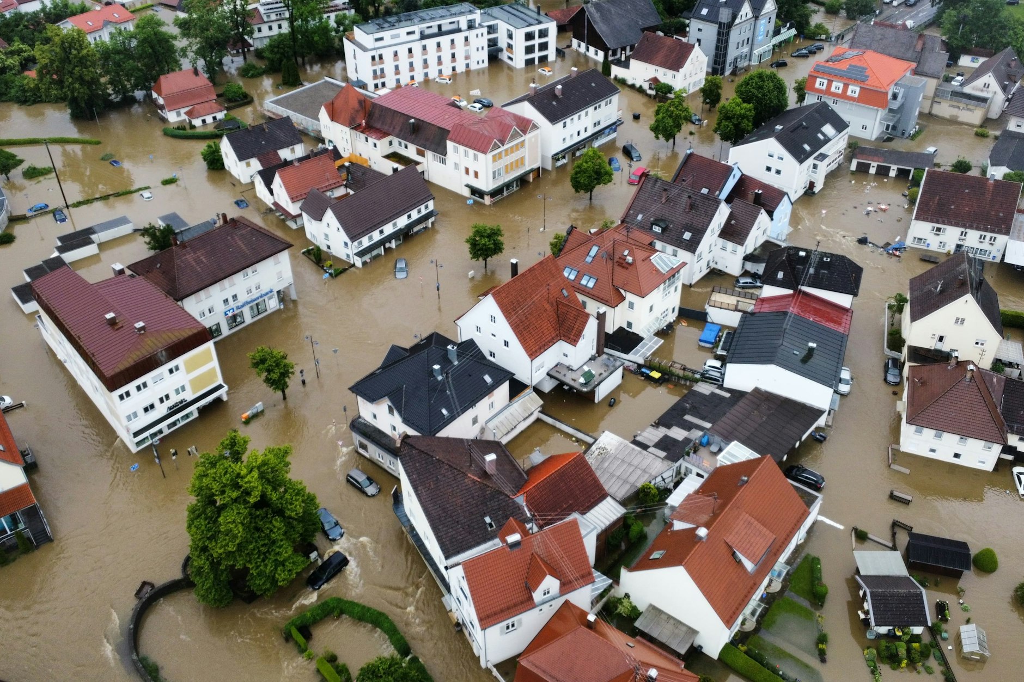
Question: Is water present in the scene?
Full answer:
Yes, the picture does contain water.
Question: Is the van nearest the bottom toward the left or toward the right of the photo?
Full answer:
The van nearest the bottom sits on the left side.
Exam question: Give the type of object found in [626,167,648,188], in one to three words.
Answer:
vehicle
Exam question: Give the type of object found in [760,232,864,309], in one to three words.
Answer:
house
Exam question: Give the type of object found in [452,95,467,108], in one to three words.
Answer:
vehicle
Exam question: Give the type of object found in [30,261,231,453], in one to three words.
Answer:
building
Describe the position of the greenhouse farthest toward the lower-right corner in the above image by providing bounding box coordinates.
[956,624,991,664]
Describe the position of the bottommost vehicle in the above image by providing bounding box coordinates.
[306,547,350,593]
